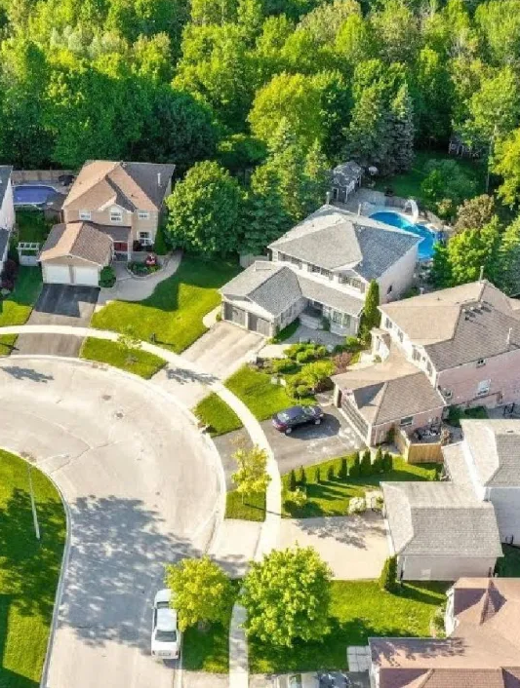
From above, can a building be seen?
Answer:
Yes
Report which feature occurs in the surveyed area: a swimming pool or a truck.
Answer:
swimming pool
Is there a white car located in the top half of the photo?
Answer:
No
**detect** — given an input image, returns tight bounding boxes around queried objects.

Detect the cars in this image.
[279,672,357,688]
[273,398,330,430]
[150,591,181,655]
